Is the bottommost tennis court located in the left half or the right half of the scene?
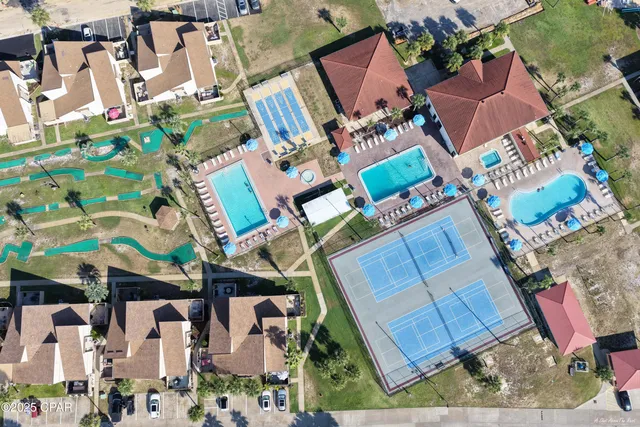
right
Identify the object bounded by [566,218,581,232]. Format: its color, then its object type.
blue umbrella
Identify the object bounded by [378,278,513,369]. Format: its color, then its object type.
blue tennis court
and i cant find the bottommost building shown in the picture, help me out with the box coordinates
[609,348,640,392]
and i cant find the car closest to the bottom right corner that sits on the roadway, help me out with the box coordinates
[616,391,631,411]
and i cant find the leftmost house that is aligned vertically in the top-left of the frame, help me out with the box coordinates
[0,62,34,139]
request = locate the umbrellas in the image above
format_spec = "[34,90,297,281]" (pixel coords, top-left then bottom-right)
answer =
[581,143,593,154]
[277,216,289,228]
[409,196,423,209]
[246,139,258,151]
[338,153,350,165]
[509,239,522,251]
[488,196,500,208]
[566,218,581,232]
[286,166,299,178]
[471,174,484,186]
[385,129,398,141]
[595,169,608,182]
[413,114,425,126]
[444,183,456,195]
[362,204,375,216]
[224,243,236,254]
